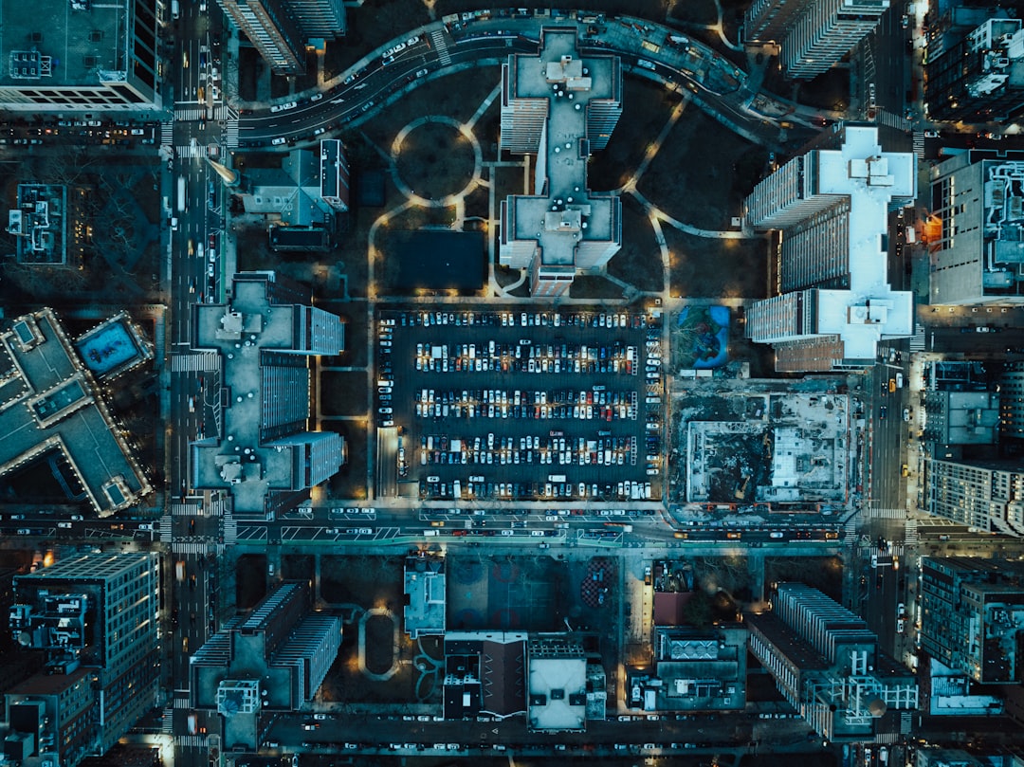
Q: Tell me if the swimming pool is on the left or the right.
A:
left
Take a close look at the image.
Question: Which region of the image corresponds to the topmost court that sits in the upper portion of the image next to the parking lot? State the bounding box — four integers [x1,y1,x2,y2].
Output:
[388,231,484,289]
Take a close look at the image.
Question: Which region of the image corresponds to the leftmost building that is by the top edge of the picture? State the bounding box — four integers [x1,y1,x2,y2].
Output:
[0,0,161,109]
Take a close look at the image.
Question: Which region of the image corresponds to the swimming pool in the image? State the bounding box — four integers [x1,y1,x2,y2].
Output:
[81,322,137,375]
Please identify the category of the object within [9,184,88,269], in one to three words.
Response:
building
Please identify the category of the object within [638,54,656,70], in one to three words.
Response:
vehicle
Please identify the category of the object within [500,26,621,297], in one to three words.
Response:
building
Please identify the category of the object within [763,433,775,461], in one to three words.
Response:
vehicle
